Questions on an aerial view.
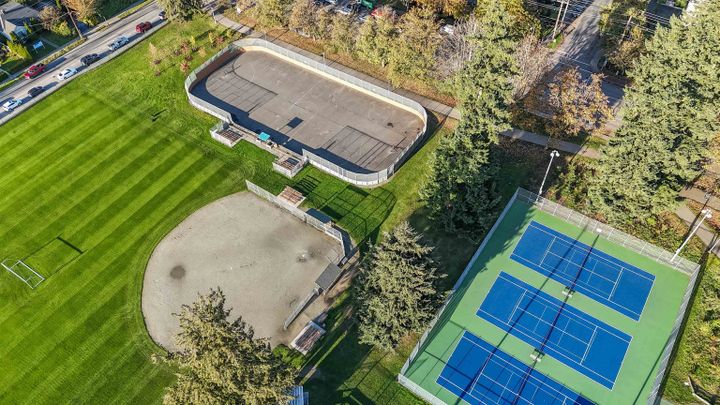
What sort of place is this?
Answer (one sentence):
This looks like a sports ground.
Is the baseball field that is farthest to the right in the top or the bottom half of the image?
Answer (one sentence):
The baseball field that is farthest to the right is in the bottom half of the image.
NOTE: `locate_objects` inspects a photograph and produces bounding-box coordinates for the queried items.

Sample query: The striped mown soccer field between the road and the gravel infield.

[0,84,233,405]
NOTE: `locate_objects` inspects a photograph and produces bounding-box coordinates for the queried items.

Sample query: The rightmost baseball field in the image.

[136,190,346,366]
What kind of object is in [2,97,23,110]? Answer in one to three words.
vehicle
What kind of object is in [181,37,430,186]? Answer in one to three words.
sports court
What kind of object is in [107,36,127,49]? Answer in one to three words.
vehicle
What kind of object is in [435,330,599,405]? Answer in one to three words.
tennis court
